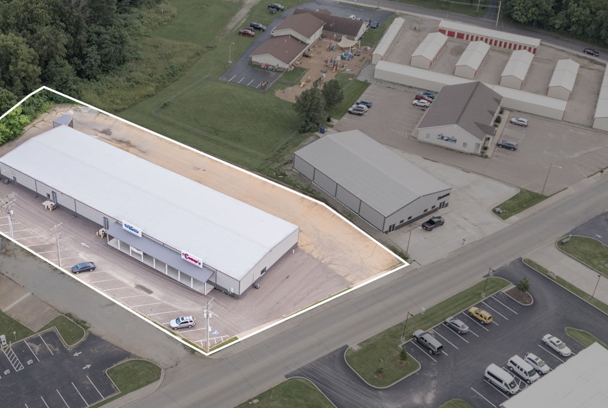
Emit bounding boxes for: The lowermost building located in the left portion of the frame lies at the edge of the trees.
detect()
[0,124,302,299]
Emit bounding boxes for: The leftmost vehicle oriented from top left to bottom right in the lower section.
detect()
[411,329,446,356]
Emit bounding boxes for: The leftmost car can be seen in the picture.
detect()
[70,262,97,276]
